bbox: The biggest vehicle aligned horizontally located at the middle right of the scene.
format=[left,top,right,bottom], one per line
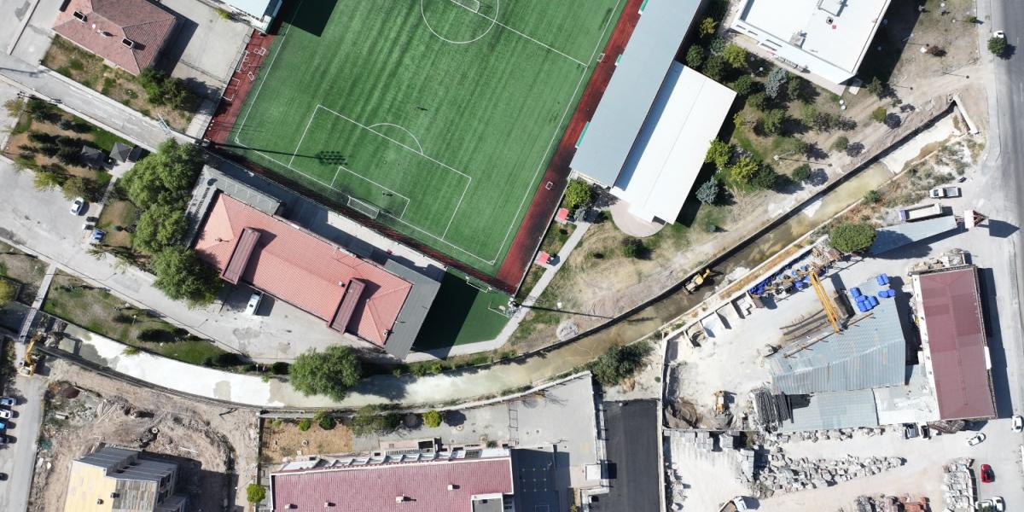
[898,205,943,224]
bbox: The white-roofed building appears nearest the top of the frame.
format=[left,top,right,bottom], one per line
[226,0,299,35]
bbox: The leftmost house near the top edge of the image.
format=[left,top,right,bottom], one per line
[52,0,177,77]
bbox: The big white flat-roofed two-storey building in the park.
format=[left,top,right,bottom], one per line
[729,0,891,82]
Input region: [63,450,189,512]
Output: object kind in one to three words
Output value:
building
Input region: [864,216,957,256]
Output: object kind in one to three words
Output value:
shed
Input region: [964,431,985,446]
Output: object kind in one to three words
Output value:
car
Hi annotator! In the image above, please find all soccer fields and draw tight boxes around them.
[205,0,649,295]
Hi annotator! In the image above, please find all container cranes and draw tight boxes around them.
[804,267,840,334]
